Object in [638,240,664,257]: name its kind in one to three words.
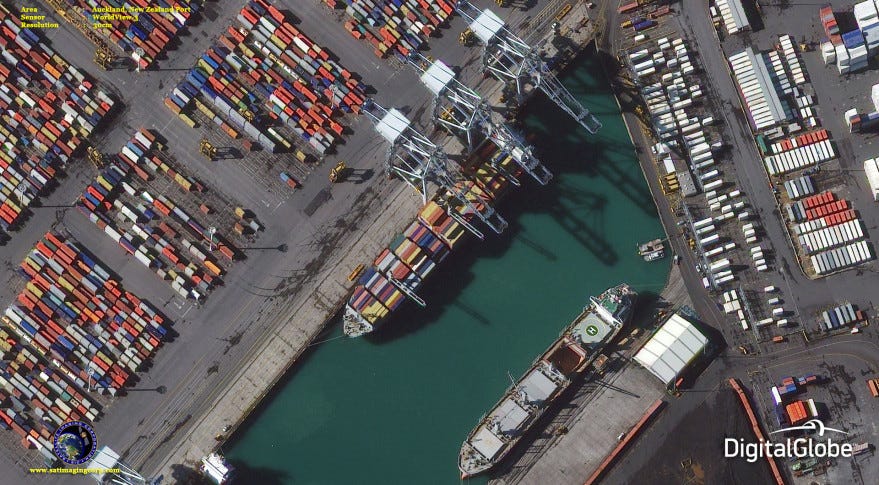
ship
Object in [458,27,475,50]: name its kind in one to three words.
work vehicle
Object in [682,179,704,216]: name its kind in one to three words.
shed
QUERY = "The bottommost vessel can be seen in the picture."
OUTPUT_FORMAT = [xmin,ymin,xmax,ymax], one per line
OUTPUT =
[188,450,236,485]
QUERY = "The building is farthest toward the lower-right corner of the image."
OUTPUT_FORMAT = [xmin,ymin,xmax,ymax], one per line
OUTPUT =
[637,313,711,391]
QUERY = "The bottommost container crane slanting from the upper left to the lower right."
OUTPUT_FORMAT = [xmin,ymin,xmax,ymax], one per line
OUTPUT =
[64,433,142,485]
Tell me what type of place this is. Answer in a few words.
port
